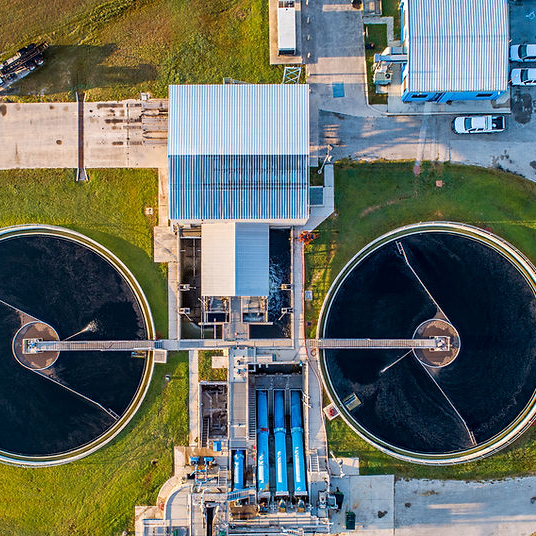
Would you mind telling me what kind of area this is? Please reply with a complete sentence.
It's an industrial area.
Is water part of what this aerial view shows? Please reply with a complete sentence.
Yes, water shows up in the scene.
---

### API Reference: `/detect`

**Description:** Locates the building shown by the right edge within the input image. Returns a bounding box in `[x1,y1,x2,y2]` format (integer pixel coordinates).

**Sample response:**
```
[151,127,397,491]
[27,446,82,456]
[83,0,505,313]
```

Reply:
[403,0,514,102]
